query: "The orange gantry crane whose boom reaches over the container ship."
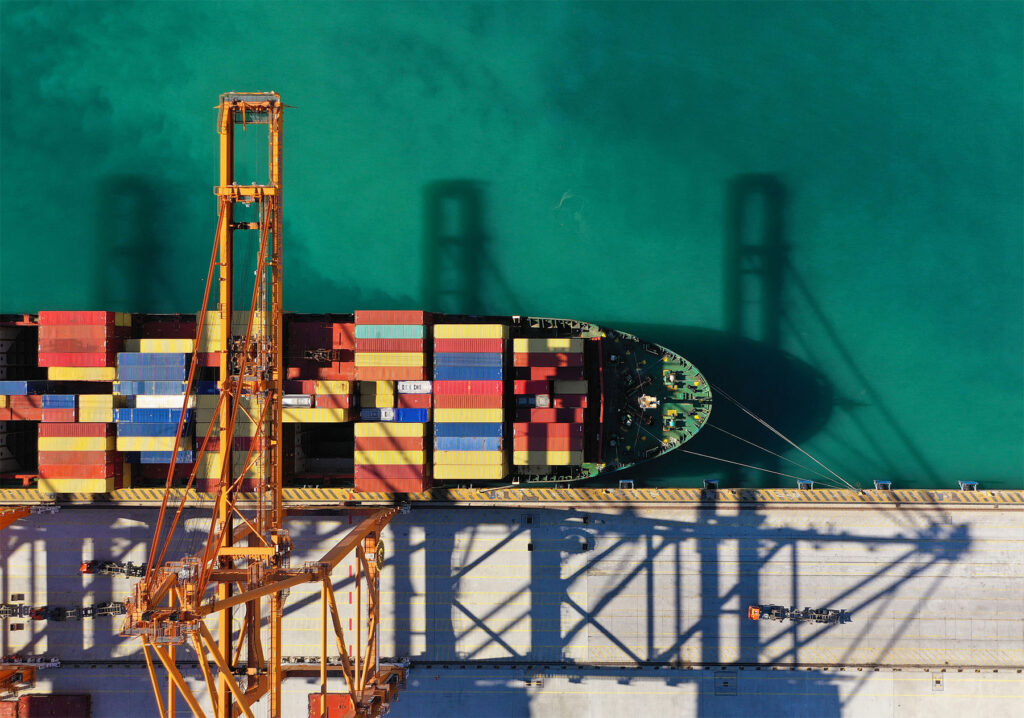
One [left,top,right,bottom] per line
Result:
[118,94,415,718]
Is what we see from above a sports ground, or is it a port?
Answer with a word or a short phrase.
port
